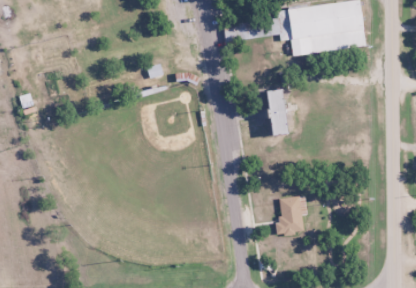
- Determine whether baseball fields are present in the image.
Yes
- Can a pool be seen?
No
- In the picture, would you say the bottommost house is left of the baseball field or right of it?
to the right of it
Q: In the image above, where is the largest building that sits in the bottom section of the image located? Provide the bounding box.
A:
[276,197,308,236]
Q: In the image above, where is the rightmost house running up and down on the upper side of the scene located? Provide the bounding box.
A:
[268,89,290,136]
